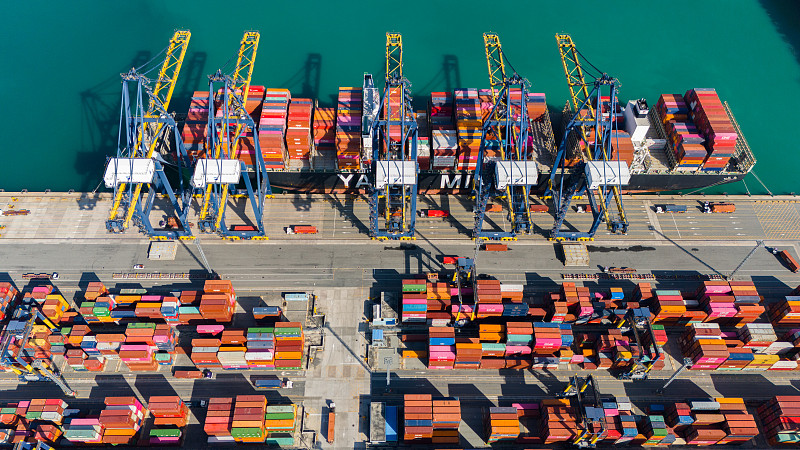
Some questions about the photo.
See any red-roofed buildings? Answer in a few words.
No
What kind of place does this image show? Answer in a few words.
port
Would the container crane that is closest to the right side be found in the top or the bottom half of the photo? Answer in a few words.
bottom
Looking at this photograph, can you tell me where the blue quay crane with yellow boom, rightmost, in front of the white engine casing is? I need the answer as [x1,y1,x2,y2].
[541,30,634,244]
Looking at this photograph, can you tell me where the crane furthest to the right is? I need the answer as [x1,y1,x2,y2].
[613,304,663,376]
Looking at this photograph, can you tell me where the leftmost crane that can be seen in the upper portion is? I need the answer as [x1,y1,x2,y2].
[103,27,202,243]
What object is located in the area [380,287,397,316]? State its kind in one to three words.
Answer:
building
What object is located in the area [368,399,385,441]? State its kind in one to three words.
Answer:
building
